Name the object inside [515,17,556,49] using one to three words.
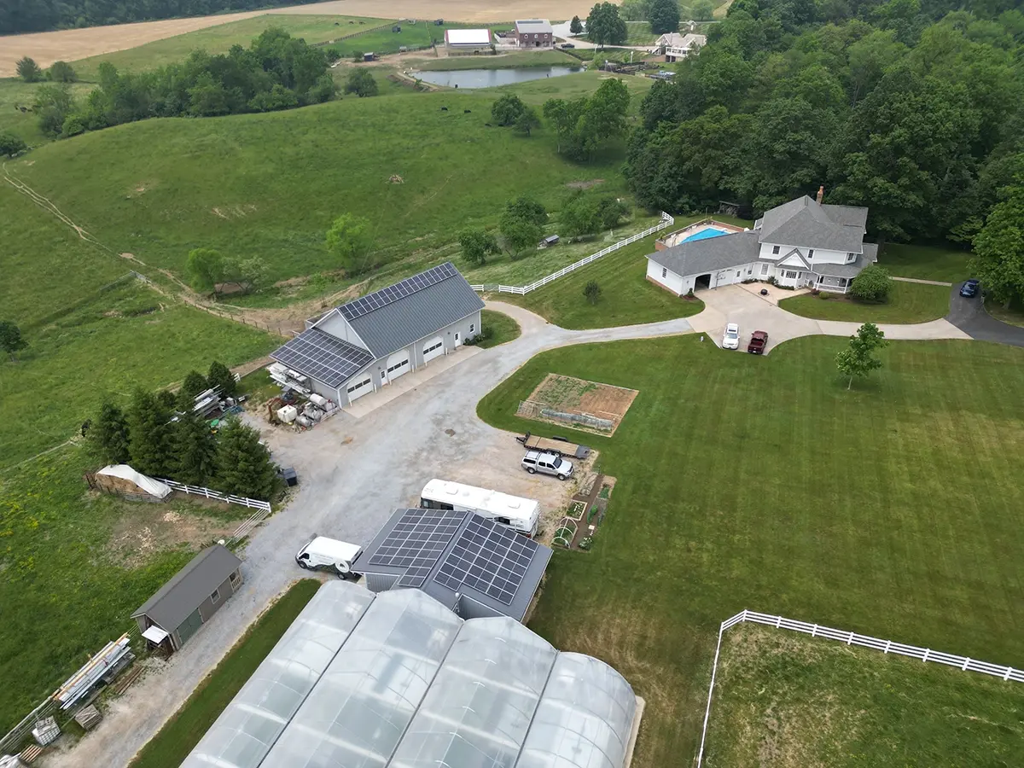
barn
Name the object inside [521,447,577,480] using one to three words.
truck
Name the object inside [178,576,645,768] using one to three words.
greenhouse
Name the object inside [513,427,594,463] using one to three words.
trailer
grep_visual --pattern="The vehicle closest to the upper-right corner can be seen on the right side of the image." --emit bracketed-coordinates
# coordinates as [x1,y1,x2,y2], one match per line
[957,280,976,297]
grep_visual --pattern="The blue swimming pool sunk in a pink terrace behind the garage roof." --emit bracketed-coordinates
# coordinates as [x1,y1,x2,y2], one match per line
[657,215,750,251]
